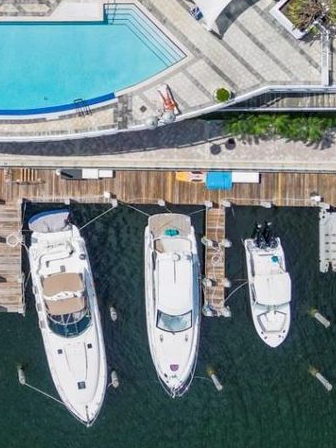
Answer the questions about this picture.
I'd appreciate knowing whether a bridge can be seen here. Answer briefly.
No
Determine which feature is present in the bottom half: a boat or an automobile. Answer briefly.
boat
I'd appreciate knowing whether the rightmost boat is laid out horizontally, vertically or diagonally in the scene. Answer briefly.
vertically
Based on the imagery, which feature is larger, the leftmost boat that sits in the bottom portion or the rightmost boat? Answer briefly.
the leftmost boat that sits in the bottom portion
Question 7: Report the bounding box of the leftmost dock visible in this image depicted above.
[0,203,22,312]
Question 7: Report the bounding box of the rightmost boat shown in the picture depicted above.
[243,213,290,348]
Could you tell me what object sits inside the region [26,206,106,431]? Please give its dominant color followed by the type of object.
white boat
